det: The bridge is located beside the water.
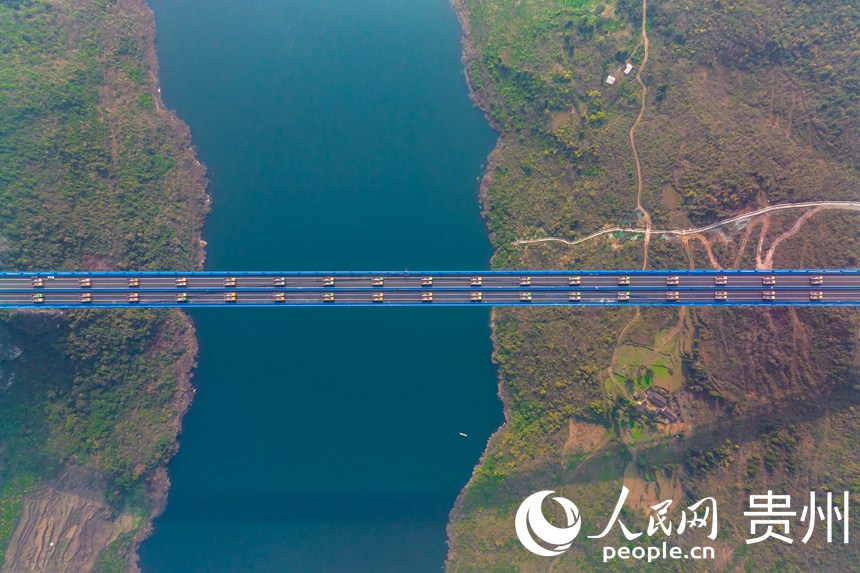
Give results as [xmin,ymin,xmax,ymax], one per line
[0,267,860,310]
